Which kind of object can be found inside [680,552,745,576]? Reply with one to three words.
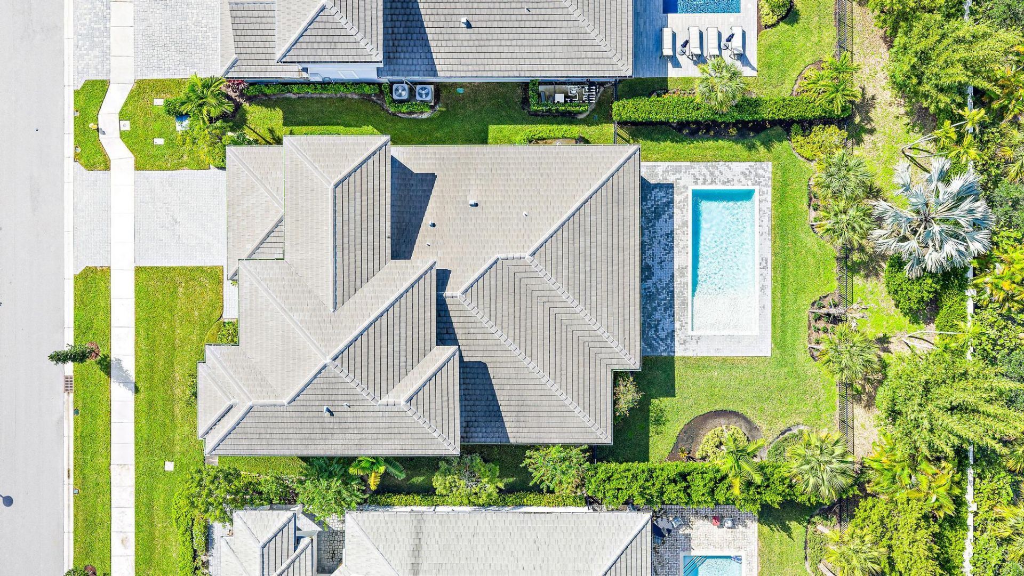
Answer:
swimming pool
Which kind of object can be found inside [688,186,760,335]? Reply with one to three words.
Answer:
swimming pool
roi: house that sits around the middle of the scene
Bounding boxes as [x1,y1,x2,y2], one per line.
[196,133,643,457]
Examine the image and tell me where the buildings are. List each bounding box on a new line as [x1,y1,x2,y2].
[196,133,643,457]
[218,0,635,84]
[219,504,654,576]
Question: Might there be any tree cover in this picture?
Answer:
Yes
